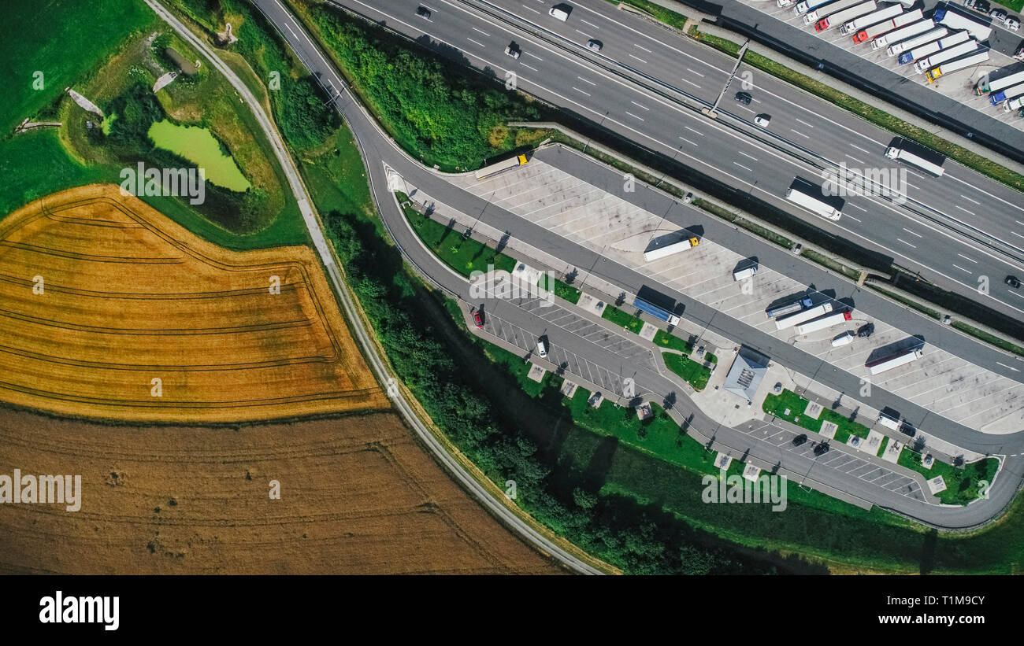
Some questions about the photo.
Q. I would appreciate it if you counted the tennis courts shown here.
0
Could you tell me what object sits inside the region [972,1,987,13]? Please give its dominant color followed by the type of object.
black vehicle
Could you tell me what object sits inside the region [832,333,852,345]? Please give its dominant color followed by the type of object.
white vehicle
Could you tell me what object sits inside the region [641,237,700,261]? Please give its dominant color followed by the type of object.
white truck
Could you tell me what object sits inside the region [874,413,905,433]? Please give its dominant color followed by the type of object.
white vehicle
